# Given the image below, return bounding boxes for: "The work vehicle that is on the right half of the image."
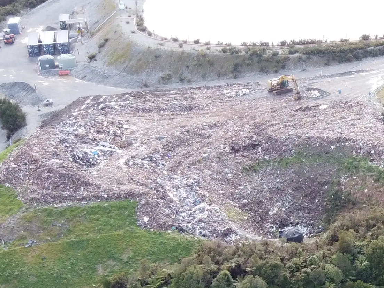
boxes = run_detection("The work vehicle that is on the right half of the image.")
[266,68,304,94]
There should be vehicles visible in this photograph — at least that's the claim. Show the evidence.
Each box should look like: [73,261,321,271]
[266,68,304,94]
[0,25,16,45]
